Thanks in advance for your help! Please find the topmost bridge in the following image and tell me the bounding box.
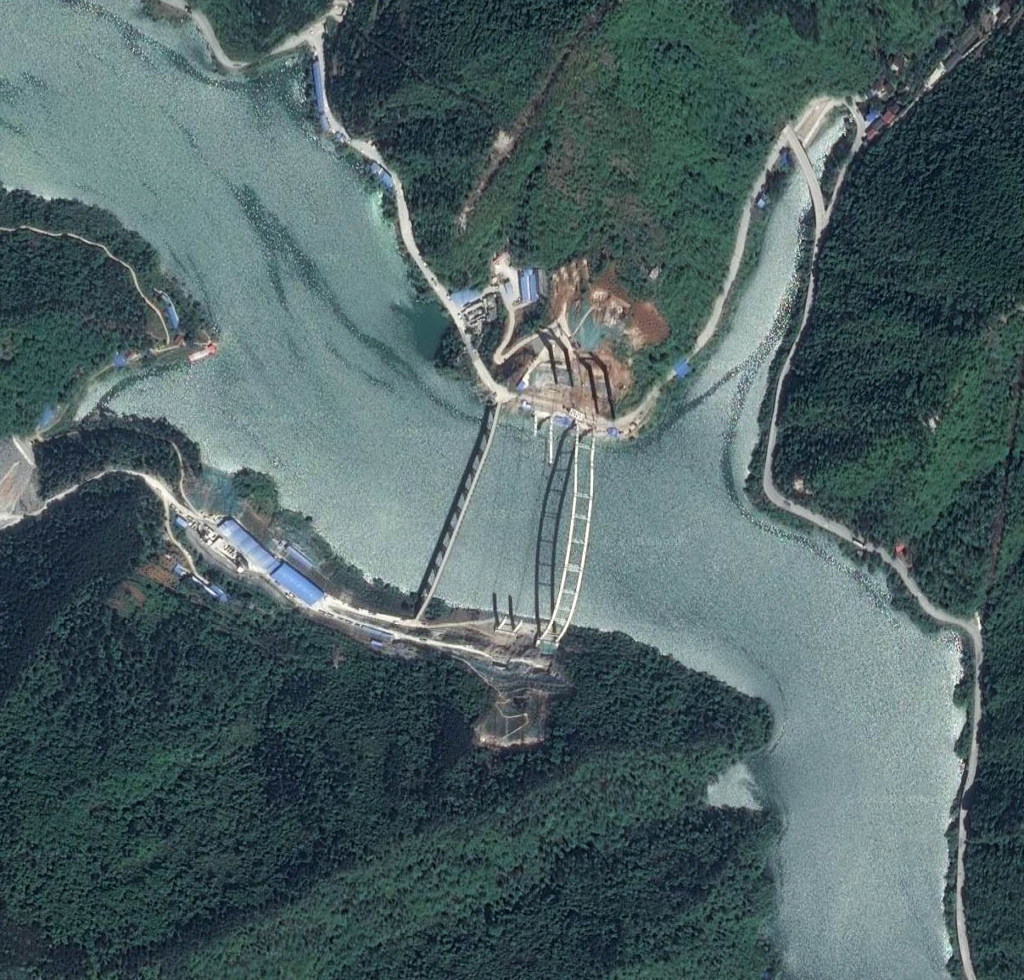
[785,124,825,217]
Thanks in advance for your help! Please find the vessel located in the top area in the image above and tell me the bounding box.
[188,347,214,362]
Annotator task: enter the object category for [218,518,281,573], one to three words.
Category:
building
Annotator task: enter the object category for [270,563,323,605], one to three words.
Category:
building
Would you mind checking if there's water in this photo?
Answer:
Yes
